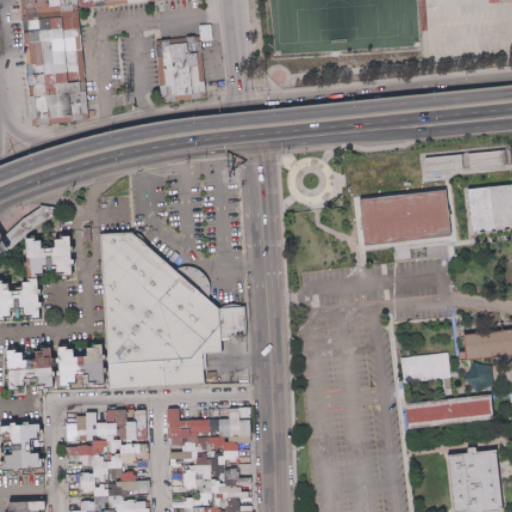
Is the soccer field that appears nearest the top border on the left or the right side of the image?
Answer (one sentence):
It is on the right.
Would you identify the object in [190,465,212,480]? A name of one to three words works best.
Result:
house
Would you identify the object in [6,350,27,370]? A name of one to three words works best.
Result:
building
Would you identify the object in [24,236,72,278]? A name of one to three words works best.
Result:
building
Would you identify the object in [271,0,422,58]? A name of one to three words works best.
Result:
soccer field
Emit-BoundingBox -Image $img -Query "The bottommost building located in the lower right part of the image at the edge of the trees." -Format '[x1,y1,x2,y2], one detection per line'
[448,447,504,512]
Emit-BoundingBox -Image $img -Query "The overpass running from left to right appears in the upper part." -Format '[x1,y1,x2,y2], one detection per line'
[0,86,512,203]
